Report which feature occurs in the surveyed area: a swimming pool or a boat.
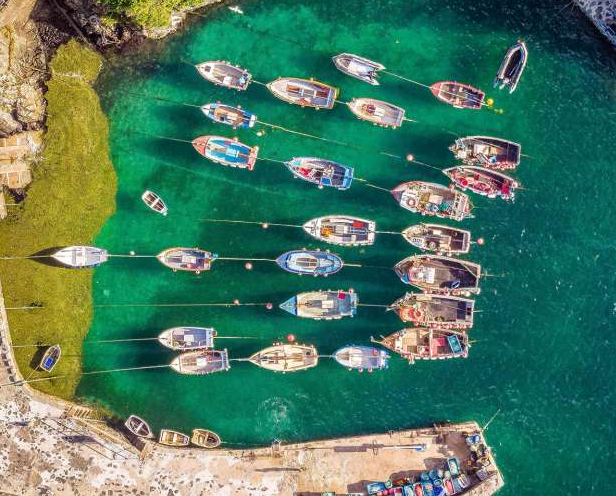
boat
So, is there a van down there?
No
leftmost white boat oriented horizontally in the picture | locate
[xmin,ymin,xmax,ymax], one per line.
[50,245,108,269]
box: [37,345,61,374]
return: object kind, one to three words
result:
boat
